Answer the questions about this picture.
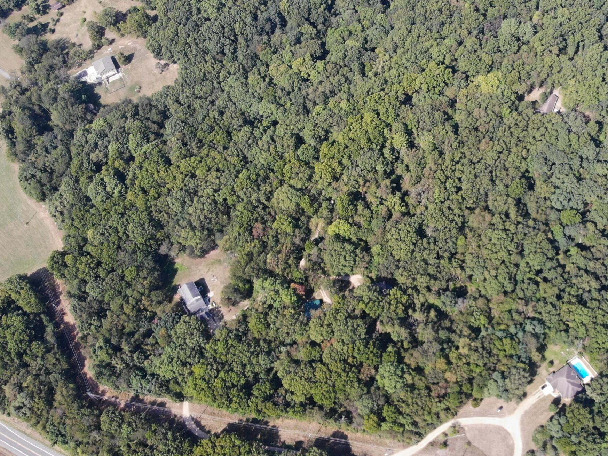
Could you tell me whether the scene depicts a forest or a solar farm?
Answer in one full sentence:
The area seen from above is a forest.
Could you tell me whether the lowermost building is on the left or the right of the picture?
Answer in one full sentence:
You can find the lowermost building on the right side of the picture.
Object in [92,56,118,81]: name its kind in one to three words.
house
